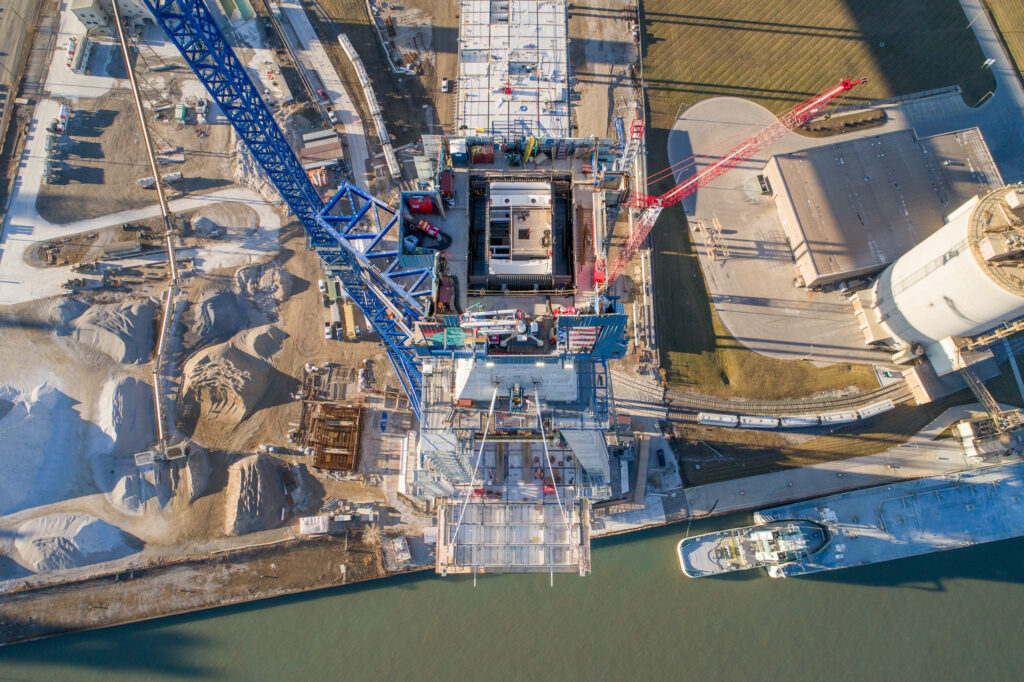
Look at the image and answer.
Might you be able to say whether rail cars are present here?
Yes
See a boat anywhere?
Yes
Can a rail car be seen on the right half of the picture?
Yes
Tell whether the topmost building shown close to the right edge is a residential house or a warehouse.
warehouse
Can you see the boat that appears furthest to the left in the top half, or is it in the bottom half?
bottom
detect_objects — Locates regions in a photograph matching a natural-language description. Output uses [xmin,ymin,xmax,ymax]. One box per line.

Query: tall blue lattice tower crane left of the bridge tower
[136,0,433,418]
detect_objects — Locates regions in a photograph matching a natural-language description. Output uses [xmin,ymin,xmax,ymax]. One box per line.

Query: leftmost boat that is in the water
[676,524,822,578]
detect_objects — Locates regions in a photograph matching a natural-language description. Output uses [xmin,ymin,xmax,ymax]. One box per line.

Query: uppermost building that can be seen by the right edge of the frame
[764,126,1002,285]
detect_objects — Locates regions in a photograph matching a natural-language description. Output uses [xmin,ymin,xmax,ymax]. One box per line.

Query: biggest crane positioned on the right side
[600,74,870,312]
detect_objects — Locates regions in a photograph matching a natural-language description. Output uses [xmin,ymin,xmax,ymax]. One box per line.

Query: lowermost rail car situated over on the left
[386,145,403,180]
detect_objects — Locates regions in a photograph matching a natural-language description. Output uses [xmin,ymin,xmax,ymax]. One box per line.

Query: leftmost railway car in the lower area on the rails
[695,412,738,426]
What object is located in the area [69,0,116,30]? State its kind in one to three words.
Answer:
building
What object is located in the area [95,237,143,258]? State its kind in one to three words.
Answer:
shed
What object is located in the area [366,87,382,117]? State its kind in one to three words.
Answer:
rail car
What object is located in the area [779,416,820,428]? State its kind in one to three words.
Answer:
rail car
